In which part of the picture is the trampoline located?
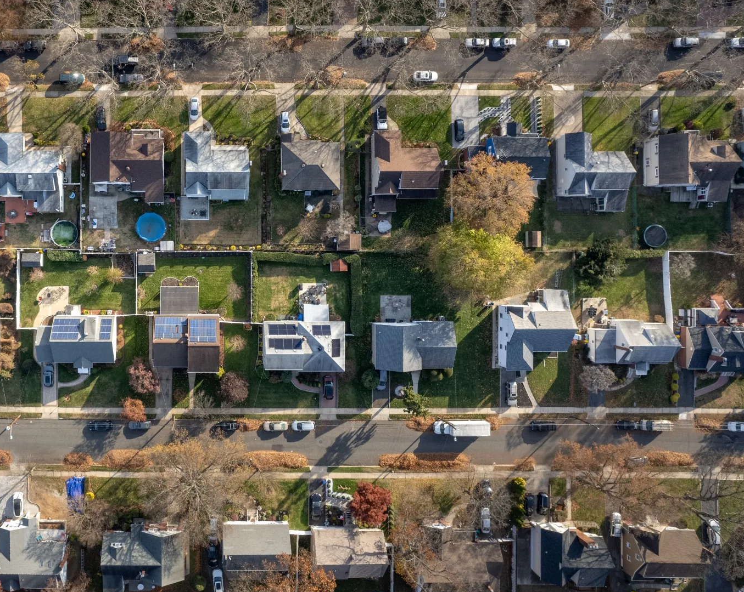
right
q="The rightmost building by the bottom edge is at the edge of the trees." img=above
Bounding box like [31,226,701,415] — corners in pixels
[619,523,716,581]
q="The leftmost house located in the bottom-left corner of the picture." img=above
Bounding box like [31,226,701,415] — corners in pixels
[0,522,72,592]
